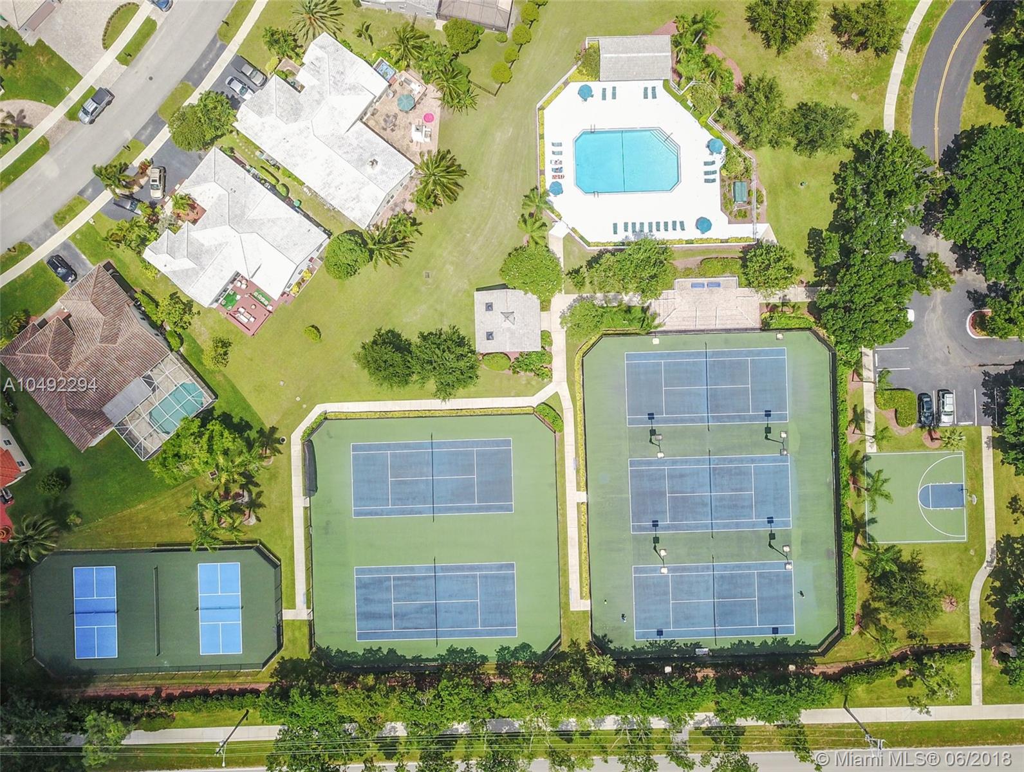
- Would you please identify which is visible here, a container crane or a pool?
pool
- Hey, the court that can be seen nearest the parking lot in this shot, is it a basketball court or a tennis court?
basketball court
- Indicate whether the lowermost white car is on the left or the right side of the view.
right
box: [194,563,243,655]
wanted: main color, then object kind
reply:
blue sports court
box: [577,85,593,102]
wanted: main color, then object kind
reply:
blue umbrella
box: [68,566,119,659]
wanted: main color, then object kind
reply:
blue sports court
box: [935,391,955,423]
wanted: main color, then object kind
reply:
white car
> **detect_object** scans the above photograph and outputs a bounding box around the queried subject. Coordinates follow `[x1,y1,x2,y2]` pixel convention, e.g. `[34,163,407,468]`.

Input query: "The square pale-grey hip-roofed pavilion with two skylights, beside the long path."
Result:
[474,290,541,353]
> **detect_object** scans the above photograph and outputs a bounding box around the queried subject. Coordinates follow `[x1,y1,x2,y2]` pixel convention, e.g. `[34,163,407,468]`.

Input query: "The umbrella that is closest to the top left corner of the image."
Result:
[397,94,415,112]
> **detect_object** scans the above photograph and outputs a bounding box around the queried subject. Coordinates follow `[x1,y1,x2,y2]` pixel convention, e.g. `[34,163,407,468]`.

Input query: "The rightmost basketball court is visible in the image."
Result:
[864,451,968,544]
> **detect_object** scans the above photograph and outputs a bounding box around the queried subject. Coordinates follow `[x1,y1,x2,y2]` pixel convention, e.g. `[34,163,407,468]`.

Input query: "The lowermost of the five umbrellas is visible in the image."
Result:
[694,218,710,234]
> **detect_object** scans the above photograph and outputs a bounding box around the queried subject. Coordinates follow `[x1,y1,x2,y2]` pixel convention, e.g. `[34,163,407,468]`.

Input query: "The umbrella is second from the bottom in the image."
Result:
[548,181,564,198]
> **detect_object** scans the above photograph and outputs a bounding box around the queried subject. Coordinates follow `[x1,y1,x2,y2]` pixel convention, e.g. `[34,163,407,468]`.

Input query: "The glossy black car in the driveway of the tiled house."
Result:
[47,253,79,285]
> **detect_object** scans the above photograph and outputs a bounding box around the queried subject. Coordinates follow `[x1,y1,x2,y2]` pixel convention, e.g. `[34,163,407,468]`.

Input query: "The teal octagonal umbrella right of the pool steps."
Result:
[706,140,722,156]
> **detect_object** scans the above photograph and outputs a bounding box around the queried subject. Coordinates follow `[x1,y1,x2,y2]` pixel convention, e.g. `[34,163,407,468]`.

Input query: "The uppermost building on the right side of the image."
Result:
[600,36,671,87]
